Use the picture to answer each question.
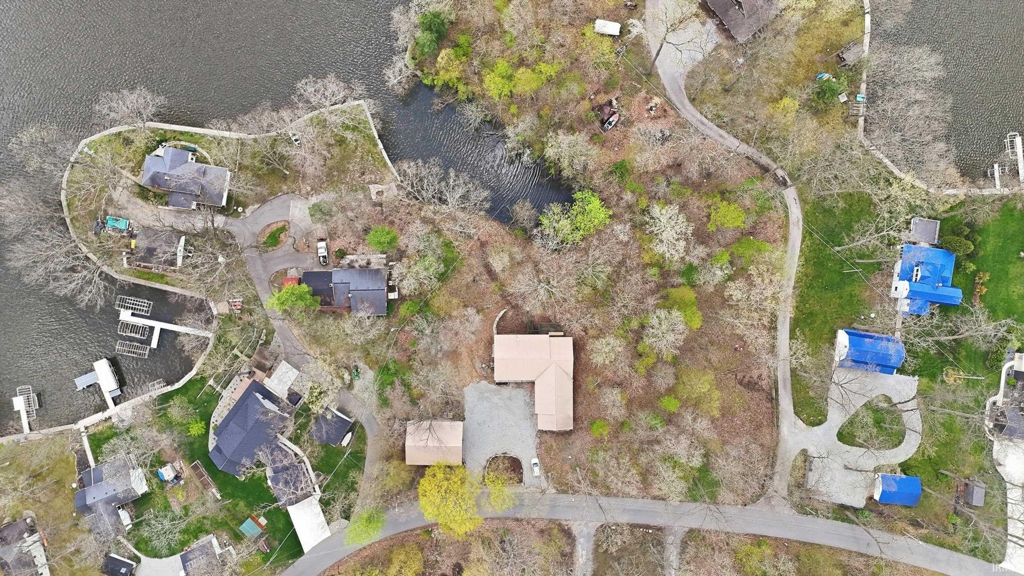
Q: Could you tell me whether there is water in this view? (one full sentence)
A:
Yes, there is water in the image.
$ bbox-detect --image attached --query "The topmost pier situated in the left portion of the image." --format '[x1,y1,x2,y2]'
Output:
[119,310,211,348]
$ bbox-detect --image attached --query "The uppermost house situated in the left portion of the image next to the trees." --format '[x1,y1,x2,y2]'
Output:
[141,145,234,210]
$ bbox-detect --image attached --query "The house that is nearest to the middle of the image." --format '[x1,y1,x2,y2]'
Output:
[491,322,574,431]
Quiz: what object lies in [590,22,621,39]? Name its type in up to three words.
vehicle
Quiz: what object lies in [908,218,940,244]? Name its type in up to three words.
shed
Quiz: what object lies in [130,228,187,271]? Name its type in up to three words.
house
